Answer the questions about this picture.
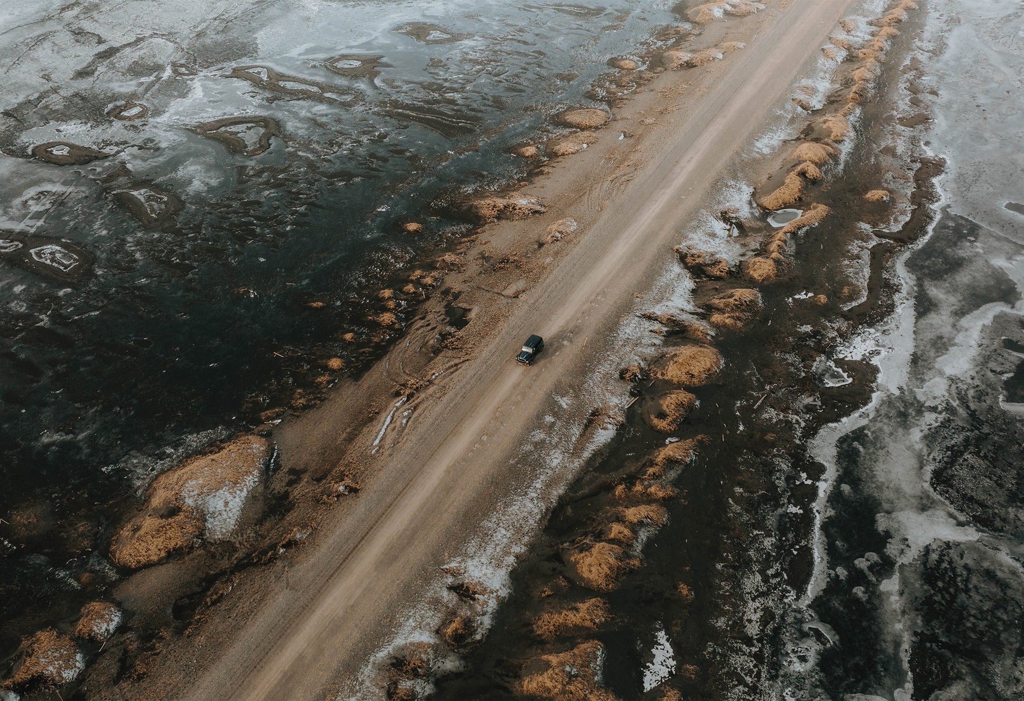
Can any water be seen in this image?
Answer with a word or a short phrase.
Yes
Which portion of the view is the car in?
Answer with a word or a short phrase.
center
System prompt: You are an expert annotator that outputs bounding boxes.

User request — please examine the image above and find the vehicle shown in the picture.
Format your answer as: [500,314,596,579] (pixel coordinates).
[516,337,544,367]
